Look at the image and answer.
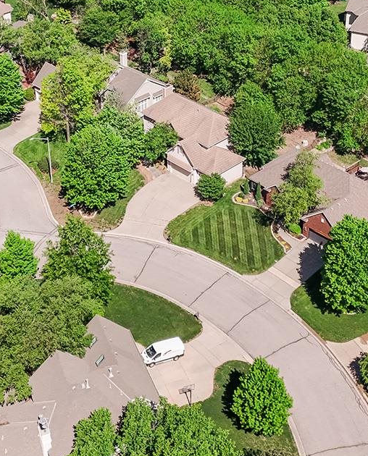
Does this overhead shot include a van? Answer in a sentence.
Yes, this view includes a van.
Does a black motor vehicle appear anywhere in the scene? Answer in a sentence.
No, this view has no black motor vehicle in it.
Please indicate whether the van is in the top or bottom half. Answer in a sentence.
The bottom half of the photo is where the van is.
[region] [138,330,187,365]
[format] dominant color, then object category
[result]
white van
